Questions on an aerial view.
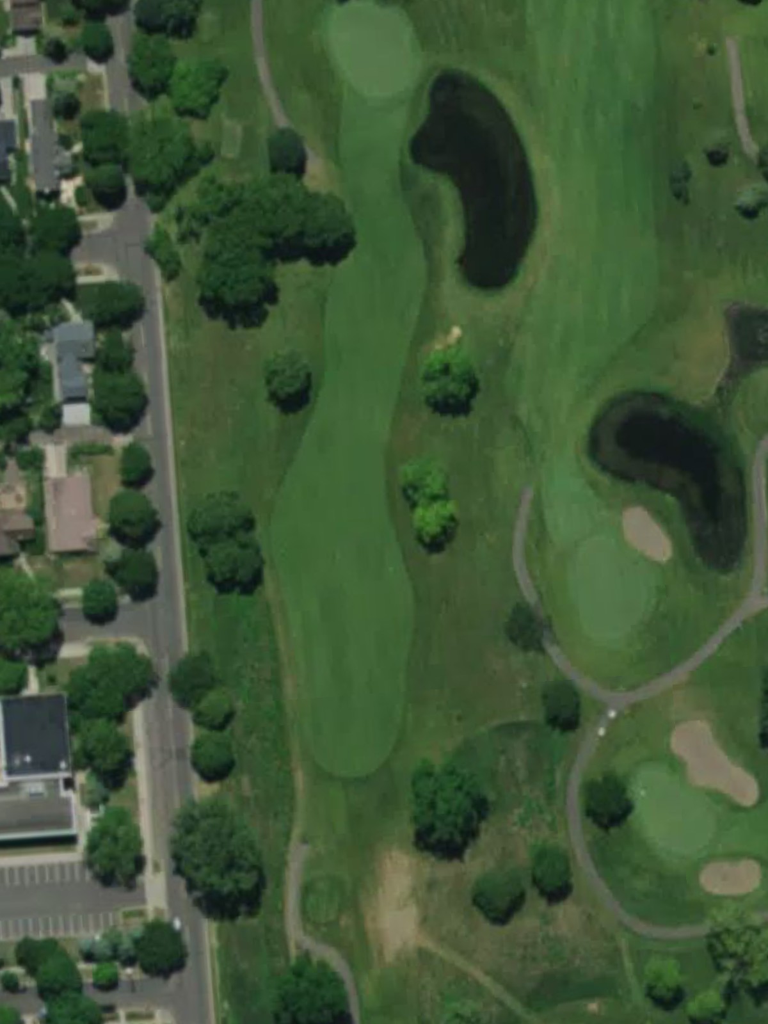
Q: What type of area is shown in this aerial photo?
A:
golf course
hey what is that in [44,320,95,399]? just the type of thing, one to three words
house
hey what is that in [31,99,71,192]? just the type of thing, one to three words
house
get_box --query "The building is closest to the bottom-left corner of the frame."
[0,696,76,838]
